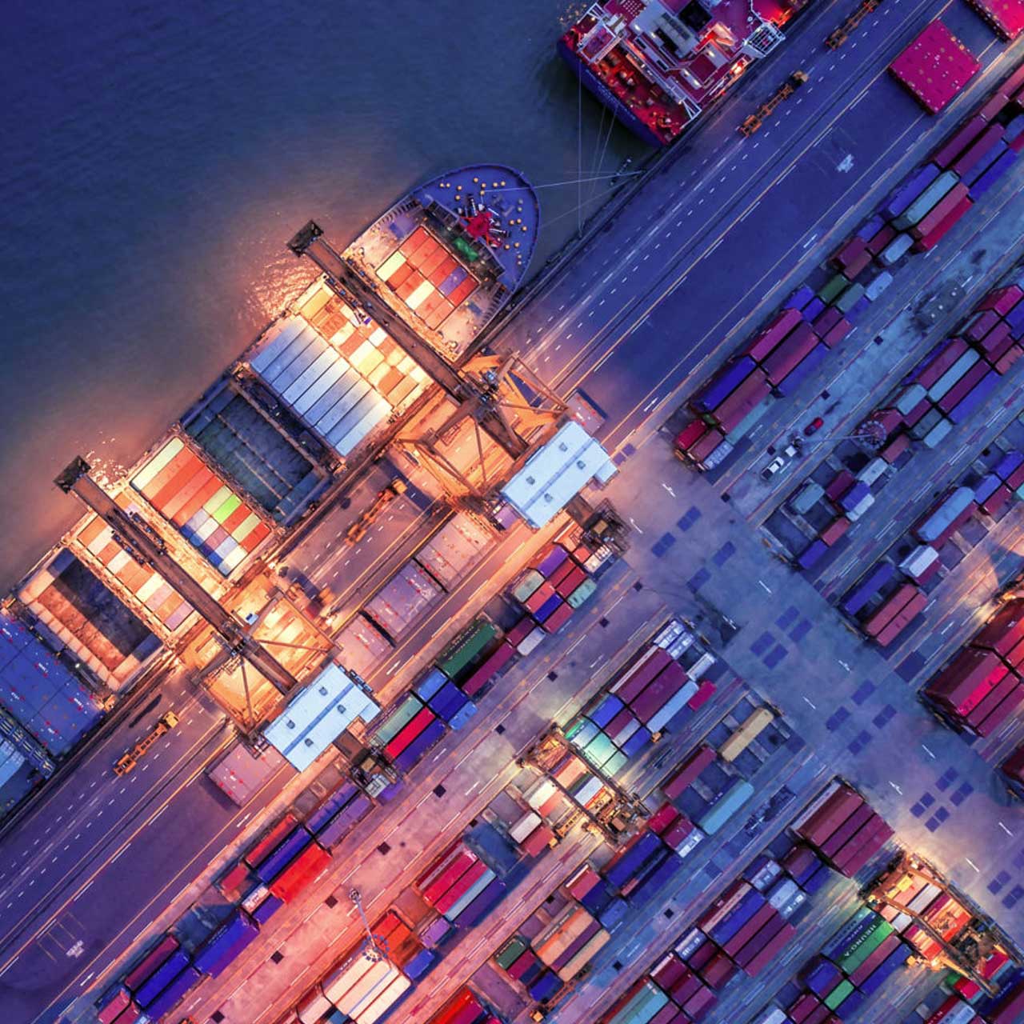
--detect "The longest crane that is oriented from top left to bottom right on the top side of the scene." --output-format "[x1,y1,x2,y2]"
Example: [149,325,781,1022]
[280,211,637,563]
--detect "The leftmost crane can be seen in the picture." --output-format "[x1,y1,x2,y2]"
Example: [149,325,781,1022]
[47,450,404,801]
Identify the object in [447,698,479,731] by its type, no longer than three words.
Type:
shipping container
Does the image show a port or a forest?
port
